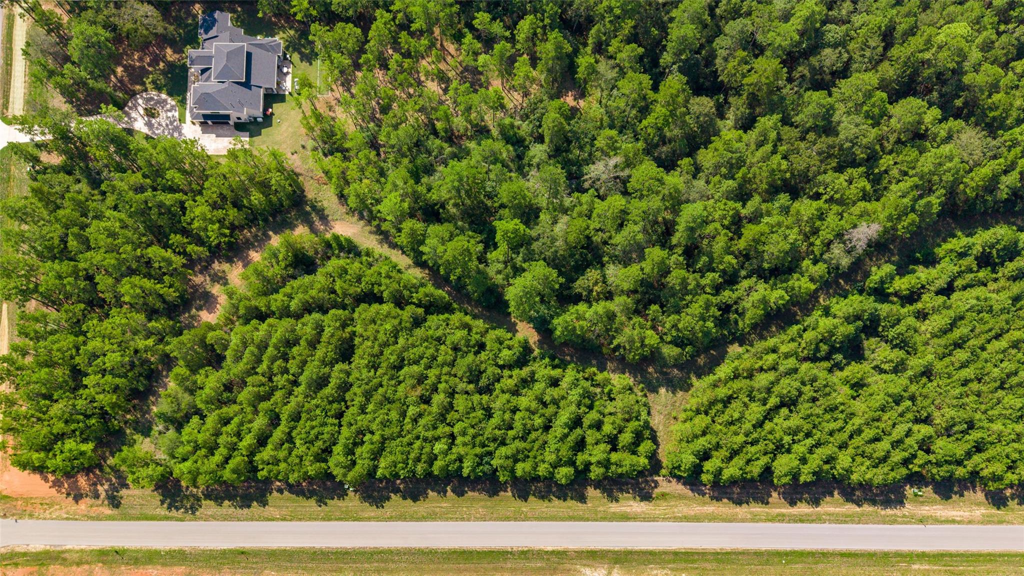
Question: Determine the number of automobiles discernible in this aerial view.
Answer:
0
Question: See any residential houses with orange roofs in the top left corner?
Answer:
No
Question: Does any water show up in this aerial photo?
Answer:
No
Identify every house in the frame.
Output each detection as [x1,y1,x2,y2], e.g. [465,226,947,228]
[188,11,284,125]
